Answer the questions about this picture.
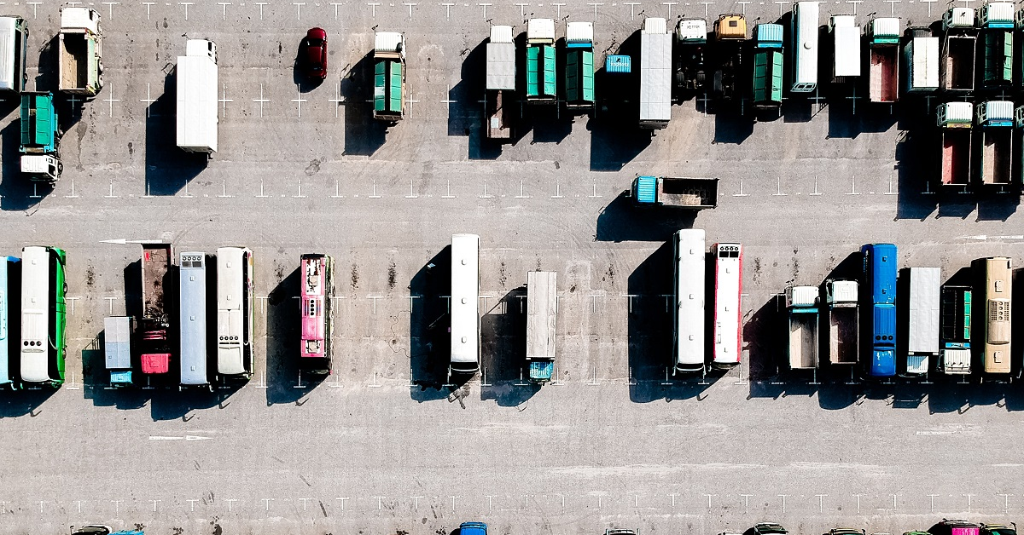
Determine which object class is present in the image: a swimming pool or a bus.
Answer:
bus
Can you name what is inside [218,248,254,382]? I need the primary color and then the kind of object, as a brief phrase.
white bus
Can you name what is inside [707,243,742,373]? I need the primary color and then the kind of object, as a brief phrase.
white bus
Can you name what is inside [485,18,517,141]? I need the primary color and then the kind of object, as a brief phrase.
white truck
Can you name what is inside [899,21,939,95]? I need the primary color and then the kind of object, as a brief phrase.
white truck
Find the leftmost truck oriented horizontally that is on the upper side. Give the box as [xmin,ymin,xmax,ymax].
[629,173,718,210]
